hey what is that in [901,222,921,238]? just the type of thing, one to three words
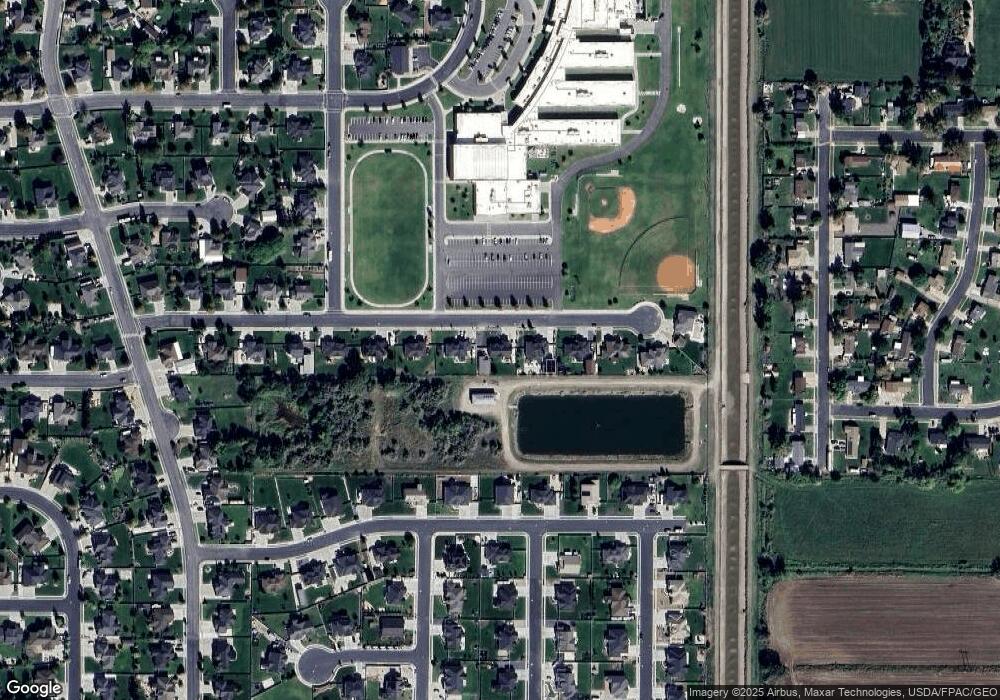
shed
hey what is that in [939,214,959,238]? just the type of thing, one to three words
house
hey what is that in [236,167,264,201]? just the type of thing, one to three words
house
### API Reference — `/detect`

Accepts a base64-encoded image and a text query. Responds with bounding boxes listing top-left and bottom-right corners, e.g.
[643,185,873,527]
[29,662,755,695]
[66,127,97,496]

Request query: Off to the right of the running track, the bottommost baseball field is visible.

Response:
[620,218,694,292]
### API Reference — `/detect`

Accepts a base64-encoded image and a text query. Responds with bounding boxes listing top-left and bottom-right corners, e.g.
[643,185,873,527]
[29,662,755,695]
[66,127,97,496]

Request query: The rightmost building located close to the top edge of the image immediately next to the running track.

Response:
[451,0,641,217]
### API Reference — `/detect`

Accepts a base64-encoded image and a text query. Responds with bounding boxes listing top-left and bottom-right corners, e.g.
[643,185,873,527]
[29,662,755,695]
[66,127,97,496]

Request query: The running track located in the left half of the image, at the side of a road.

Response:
[350,149,429,307]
